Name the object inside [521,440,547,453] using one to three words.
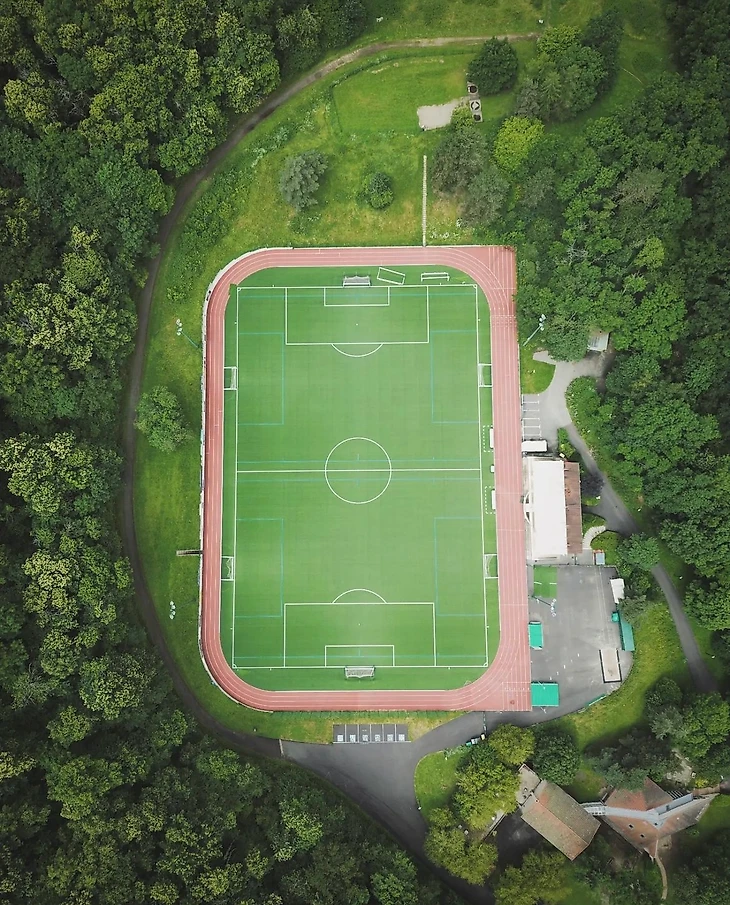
building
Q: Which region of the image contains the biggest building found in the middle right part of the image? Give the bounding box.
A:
[522,456,582,558]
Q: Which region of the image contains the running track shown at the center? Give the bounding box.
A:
[201,246,531,711]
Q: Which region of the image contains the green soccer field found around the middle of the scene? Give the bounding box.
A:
[220,265,499,691]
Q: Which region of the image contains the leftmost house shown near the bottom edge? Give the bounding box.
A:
[511,763,601,861]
